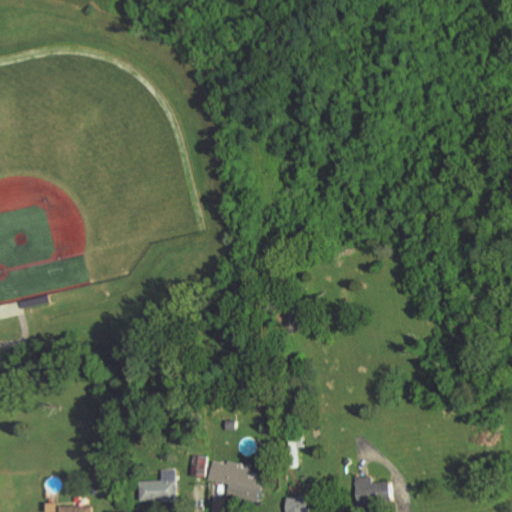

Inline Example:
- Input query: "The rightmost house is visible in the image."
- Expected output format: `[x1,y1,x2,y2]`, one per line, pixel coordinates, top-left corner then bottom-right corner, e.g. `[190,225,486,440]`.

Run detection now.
[354,476,395,502]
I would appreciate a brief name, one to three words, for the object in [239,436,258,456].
swimming pool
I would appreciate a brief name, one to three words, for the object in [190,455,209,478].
shed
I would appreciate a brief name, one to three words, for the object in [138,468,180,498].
house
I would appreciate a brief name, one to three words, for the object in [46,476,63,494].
swimming pool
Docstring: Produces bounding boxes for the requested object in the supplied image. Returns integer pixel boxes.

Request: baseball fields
[0,46,204,304]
